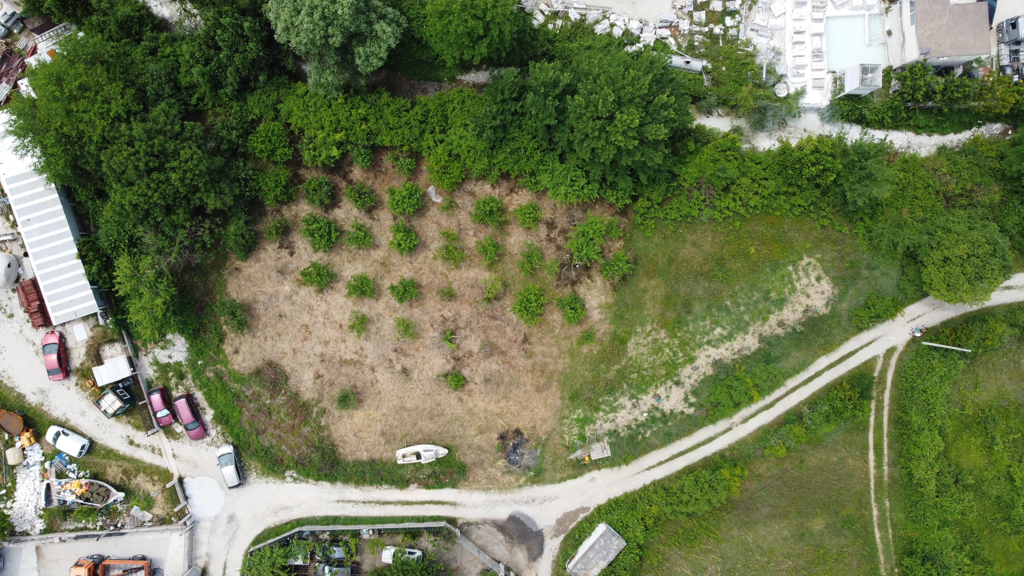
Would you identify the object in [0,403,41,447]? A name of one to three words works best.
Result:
truck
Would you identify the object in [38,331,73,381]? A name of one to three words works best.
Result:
car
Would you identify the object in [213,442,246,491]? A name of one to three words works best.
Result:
car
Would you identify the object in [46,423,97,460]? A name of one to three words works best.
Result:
van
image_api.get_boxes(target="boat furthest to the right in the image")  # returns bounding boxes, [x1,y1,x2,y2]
[396,444,448,464]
